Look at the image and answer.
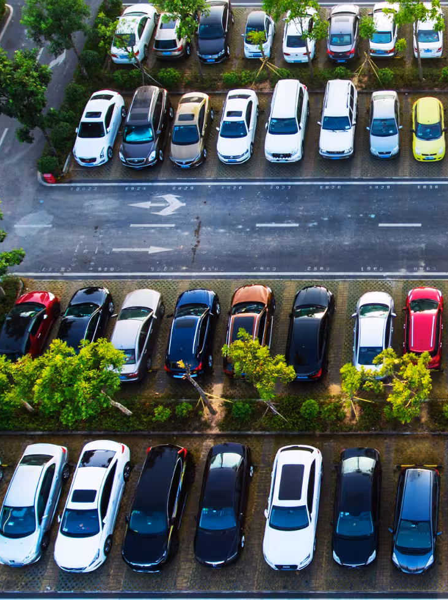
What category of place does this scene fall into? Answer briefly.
parking lot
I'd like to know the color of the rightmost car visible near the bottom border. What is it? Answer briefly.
blue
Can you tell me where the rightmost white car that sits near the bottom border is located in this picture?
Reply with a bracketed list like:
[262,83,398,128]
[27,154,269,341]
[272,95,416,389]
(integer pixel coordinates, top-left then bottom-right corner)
[260,450,320,571]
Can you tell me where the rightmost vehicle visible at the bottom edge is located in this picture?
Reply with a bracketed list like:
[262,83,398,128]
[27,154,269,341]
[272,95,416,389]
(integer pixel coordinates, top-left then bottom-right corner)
[384,468,439,575]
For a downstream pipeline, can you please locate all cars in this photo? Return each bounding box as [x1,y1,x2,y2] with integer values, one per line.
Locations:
[53,288,113,378]
[195,0,238,66]
[384,468,439,575]
[167,94,216,170]
[316,81,358,161]
[0,445,67,566]
[0,292,53,384]
[260,450,320,571]
[401,286,448,373]
[351,291,397,382]
[367,1,402,59]
[191,445,254,570]
[48,443,122,572]
[282,7,319,65]
[411,102,447,163]
[413,8,446,60]
[214,90,260,165]
[328,450,382,569]
[68,91,122,168]
[239,13,276,61]
[282,286,330,383]
[120,449,191,573]
[264,81,309,164]
[326,3,361,65]
[151,9,195,61]
[160,288,219,379]
[110,290,166,383]
[217,283,271,382]
[365,92,404,161]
